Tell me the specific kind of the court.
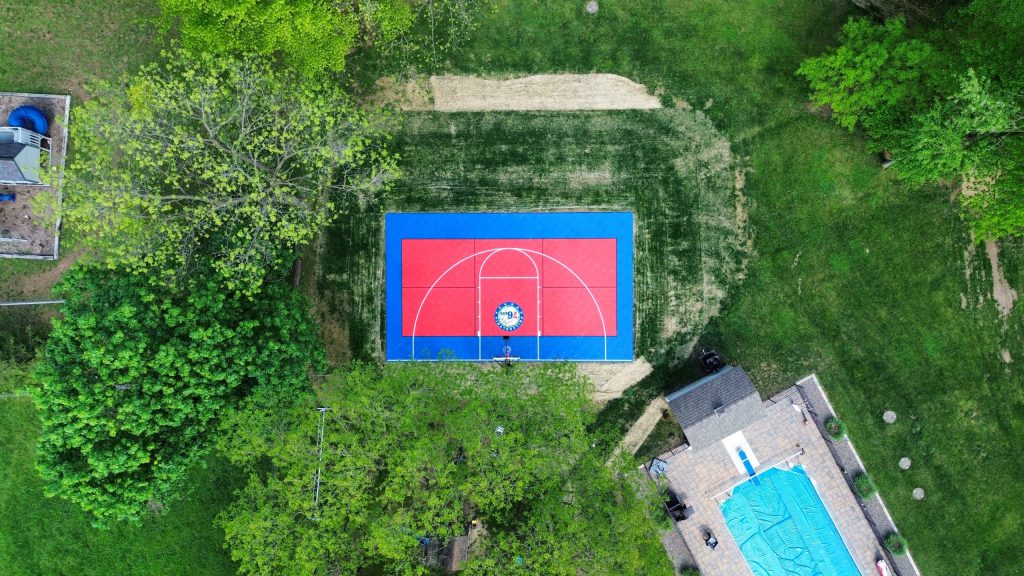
basketball court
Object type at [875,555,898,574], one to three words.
umbrella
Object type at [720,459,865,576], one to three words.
swimming pool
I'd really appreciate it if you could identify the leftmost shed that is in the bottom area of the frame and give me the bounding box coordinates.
[666,362,767,451]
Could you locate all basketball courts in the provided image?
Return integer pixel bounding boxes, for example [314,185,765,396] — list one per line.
[386,213,633,362]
